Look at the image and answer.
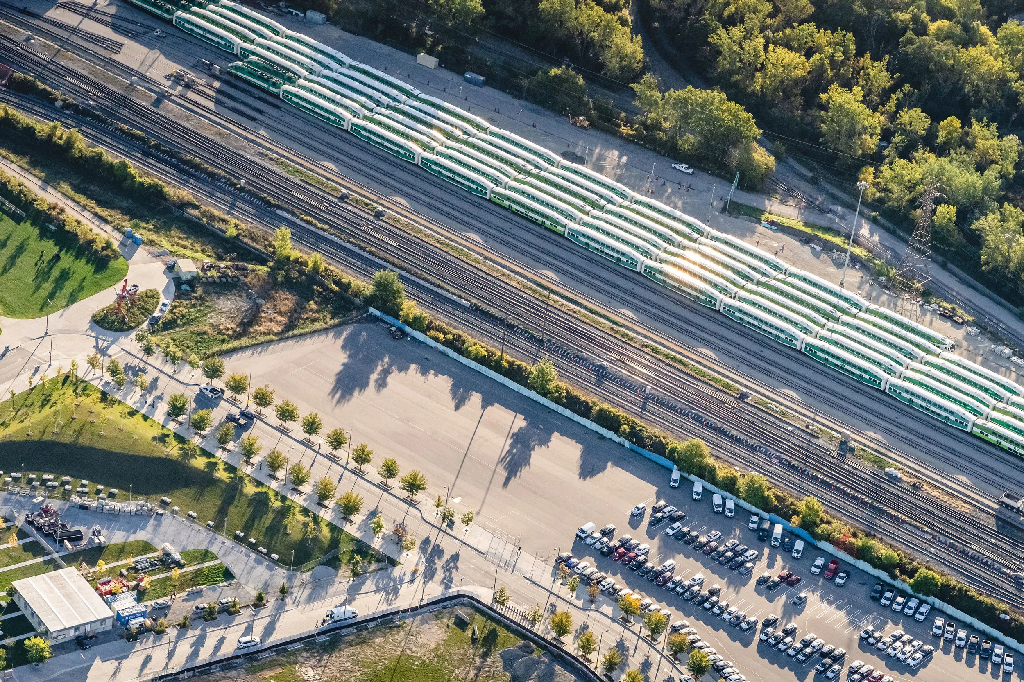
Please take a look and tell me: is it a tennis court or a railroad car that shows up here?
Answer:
railroad car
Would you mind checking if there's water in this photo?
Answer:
No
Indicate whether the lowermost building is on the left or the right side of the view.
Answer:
left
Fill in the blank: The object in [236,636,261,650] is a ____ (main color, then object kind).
white car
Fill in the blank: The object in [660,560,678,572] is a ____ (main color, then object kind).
white vehicle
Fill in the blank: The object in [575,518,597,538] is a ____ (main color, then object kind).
white vehicle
